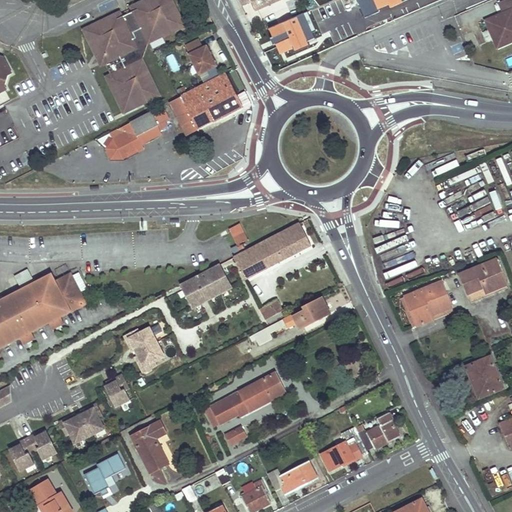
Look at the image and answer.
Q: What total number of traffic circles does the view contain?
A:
1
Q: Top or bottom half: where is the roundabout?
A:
top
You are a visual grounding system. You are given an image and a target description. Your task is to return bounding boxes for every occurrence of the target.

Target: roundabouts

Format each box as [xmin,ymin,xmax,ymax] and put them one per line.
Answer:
[141,21,430,256]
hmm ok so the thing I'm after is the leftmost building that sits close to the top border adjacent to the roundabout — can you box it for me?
[82,0,184,114]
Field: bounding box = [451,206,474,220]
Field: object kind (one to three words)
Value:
vehicle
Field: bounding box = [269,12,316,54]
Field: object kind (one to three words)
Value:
house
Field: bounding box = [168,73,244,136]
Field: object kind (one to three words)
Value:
building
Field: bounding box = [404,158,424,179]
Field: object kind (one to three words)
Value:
vehicle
